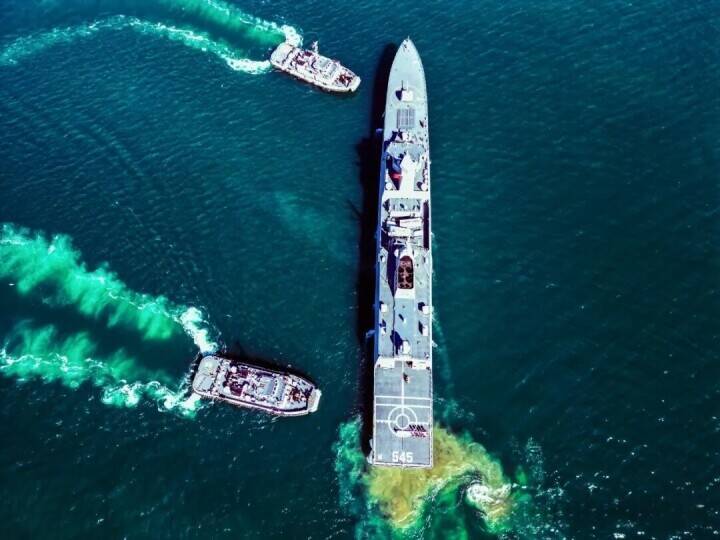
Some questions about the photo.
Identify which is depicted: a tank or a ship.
ship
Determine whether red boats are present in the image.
No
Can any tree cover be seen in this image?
No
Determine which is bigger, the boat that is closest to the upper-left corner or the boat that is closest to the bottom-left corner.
the boat that is closest to the bottom-left corner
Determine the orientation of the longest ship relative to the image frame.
up and down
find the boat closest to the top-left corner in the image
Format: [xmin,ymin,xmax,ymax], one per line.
[271,46,362,91]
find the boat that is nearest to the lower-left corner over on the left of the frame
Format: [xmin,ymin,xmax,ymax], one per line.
[193,357,321,413]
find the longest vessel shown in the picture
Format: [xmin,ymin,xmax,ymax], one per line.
[367,34,437,469]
